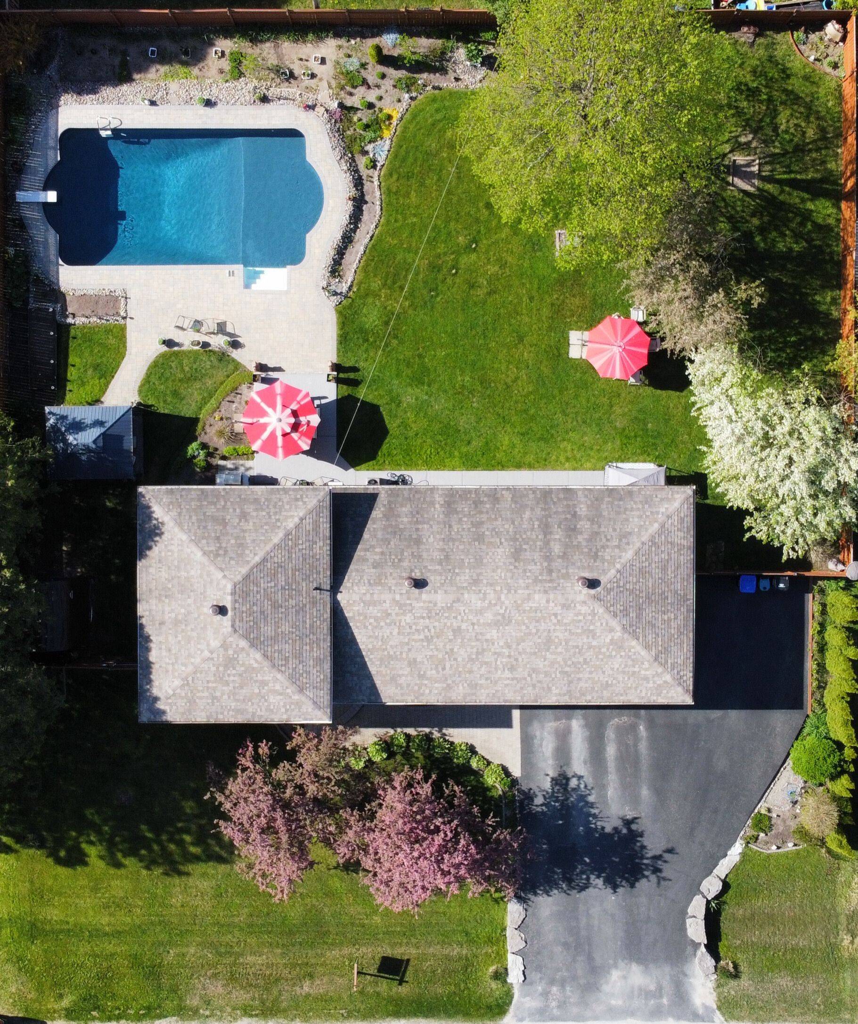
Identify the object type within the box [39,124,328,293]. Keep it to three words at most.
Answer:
swimming pool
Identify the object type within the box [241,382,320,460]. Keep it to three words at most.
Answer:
umbrella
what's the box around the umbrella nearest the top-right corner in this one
[585,315,648,378]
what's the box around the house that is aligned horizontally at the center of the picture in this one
[134,484,697,725]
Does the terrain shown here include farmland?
No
